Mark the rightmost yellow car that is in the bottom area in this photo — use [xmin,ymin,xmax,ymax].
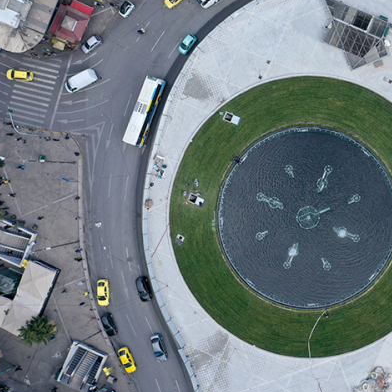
[117,345,138,373]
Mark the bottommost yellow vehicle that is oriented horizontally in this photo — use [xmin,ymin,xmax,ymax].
[6,67,36,82]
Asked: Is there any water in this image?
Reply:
Yes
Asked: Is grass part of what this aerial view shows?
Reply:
Yes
